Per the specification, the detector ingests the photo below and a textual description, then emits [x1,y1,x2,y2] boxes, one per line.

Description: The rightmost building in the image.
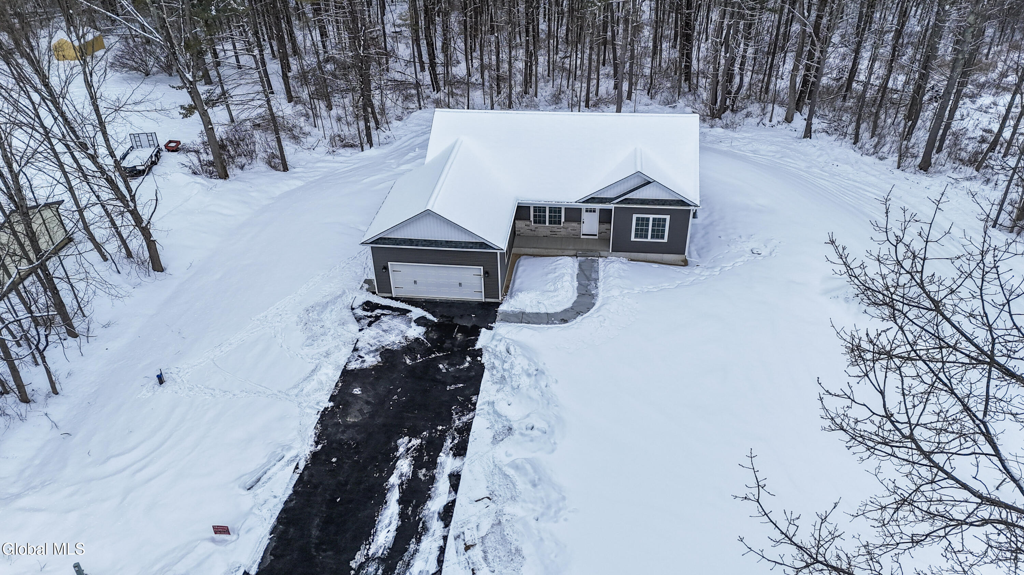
[360,104,711,302]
